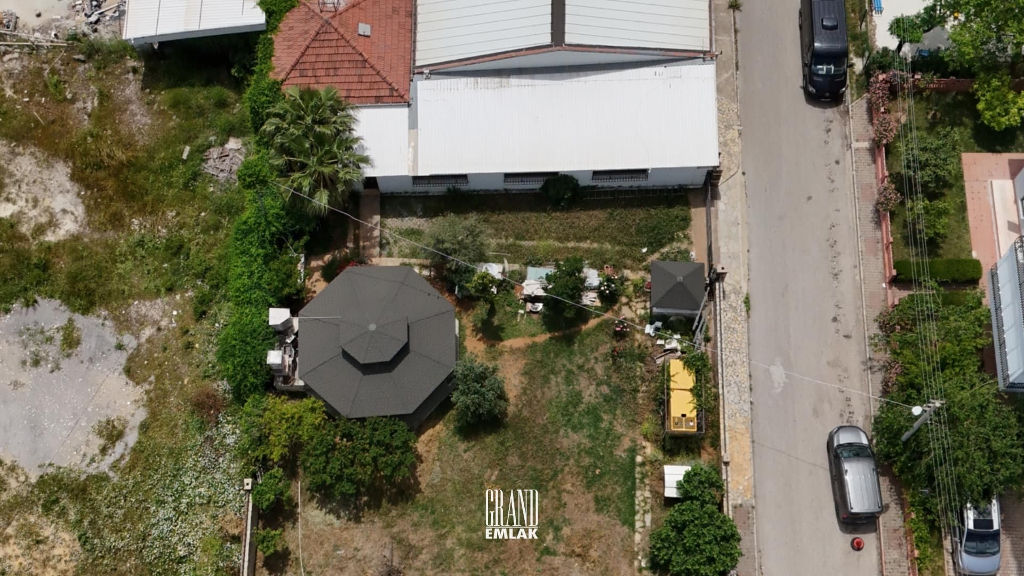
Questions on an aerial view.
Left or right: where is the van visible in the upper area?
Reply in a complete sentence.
The van visible in the upper area sits on the right side.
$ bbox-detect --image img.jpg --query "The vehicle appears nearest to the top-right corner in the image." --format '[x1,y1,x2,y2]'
[797,0,855,100]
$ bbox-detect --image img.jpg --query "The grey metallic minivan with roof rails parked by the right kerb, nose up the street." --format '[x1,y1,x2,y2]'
[831,424,885,529]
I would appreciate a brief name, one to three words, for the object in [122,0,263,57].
shed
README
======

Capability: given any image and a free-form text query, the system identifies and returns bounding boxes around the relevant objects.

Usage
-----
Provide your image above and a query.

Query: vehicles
[797,0,855,100]
[831,424,885,529]
[955,490,1006,576]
